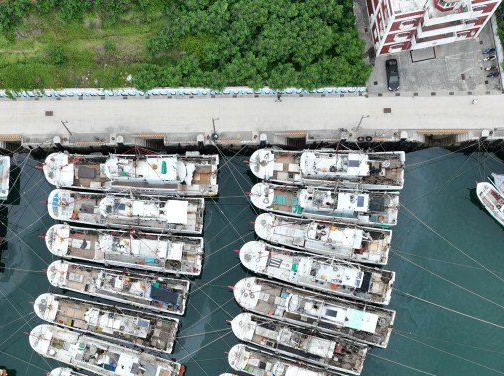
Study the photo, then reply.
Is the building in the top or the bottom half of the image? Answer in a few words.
top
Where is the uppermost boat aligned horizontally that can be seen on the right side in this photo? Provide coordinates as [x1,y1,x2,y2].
[245,144,404,190]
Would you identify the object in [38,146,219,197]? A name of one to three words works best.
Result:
boat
